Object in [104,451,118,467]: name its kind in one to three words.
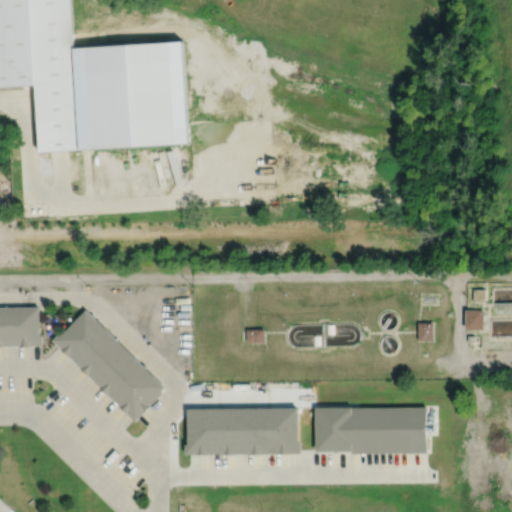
vehicle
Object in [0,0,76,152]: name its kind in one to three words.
building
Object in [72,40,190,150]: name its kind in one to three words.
building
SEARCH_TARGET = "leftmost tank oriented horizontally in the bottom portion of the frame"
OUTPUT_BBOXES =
[288,320,362,350]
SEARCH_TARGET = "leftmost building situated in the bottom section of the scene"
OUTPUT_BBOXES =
[0,308,41,346]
